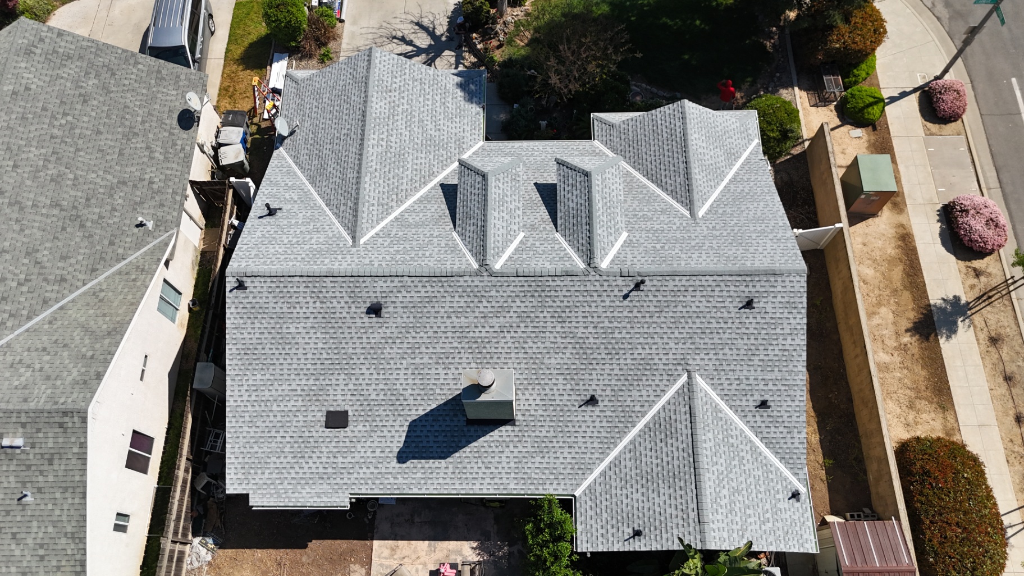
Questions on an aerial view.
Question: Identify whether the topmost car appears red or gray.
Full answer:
The color of the topmost car is gray.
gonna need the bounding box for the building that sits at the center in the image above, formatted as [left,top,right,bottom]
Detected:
[225,47,821,553]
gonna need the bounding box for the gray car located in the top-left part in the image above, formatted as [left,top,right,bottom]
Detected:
[149,0,219,72]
